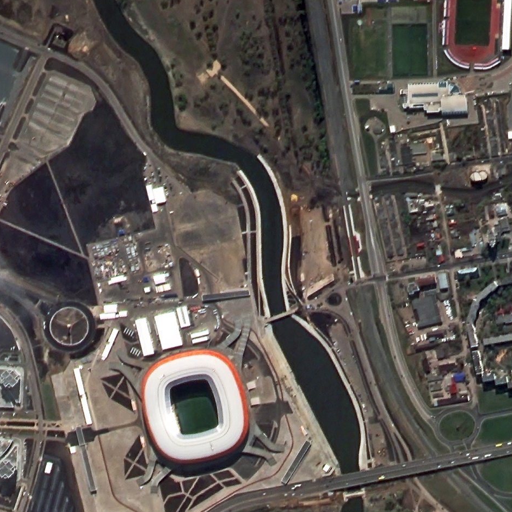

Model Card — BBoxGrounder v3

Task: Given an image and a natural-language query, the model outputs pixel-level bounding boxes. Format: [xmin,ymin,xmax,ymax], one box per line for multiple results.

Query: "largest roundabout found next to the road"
[432,404,480,446]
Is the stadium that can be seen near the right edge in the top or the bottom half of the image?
top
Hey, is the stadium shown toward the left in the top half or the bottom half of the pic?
bottom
